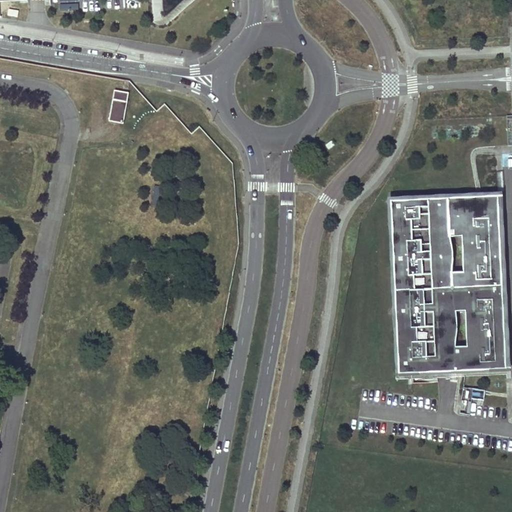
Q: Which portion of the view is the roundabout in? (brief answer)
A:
top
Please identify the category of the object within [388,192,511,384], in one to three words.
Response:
building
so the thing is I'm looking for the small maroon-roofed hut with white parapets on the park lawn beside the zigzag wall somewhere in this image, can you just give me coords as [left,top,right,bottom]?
[108,90,130,124]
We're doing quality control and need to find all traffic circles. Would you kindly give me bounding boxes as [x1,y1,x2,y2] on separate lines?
[212,25,336,152]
